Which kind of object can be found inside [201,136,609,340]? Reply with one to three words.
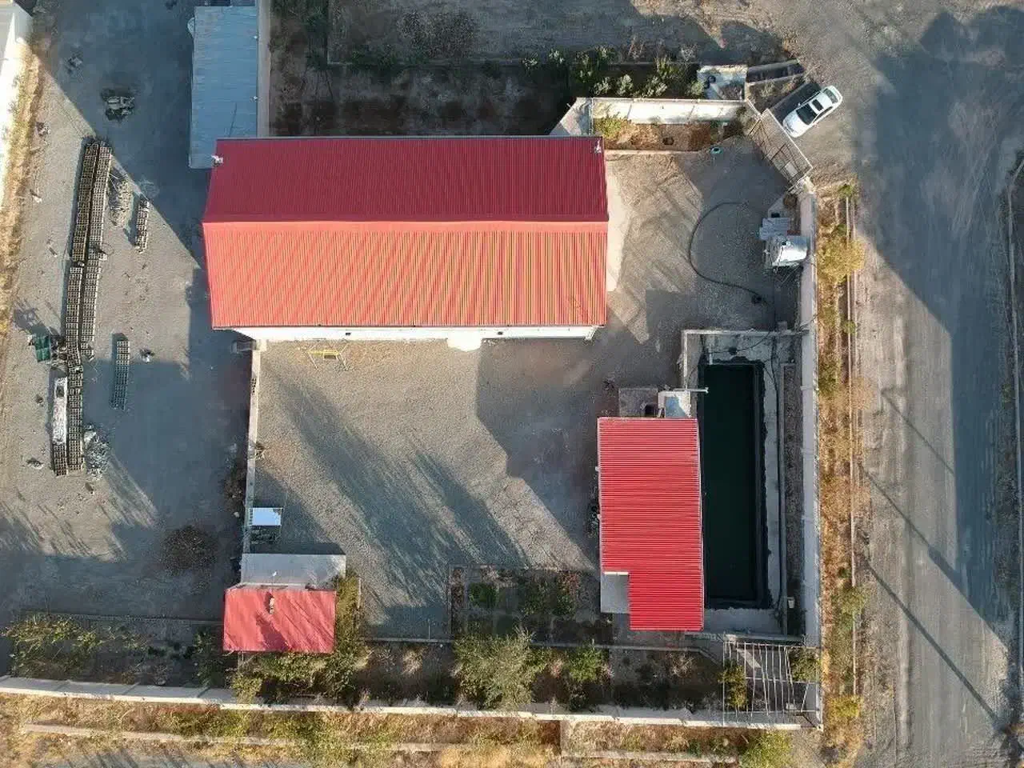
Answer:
warehouse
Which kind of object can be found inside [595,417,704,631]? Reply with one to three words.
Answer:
building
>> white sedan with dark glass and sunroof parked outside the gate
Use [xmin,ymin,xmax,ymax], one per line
[780,81,848,140]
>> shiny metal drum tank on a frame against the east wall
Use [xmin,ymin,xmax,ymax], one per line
[767,237,808,282]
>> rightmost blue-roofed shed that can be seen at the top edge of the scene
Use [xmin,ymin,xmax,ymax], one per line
[187,6,259,175]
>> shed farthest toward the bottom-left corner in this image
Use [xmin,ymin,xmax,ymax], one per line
[223,549,355,653]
